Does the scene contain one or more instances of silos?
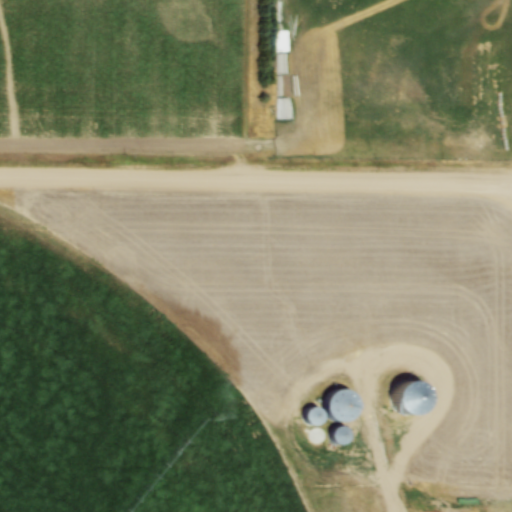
Yes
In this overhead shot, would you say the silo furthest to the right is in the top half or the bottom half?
bottom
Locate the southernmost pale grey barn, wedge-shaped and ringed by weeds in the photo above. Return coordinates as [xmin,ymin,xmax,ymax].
[275,98,294,120]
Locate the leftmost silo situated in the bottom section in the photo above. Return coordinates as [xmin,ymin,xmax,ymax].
[302,406,328,427]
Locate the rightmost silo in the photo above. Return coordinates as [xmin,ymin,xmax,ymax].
[391,380,436,416]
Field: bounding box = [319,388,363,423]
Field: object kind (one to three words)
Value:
silo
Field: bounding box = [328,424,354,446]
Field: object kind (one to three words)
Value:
silo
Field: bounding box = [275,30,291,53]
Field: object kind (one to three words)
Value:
barn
